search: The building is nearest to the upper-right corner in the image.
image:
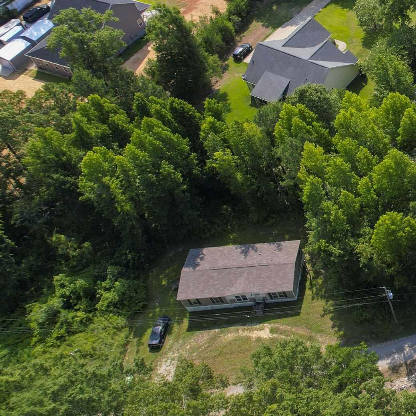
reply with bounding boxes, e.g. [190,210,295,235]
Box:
[240,17,361,114]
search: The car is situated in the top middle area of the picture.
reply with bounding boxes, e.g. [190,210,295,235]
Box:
[230,43,254,62]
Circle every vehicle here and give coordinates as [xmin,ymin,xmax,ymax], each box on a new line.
[22,5,50,24]
[149,319,169,350]
[230,43,254,62]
